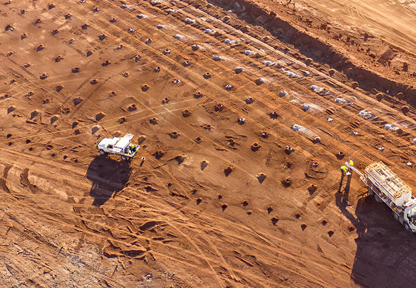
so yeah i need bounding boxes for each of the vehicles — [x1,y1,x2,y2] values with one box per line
[351,153,416,237]
[91,130,139,161]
